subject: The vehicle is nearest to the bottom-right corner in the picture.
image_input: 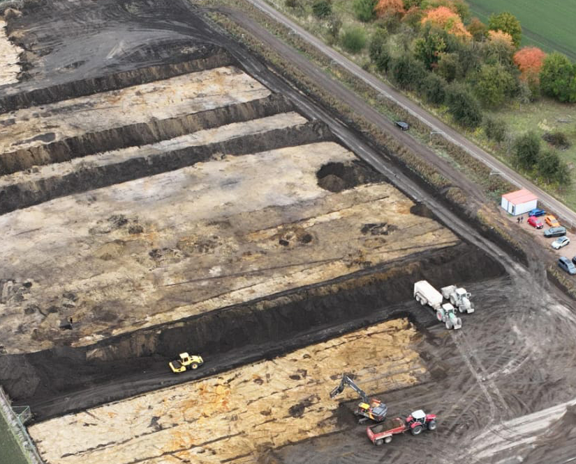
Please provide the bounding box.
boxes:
[409,412,441,434]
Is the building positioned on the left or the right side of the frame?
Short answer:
right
